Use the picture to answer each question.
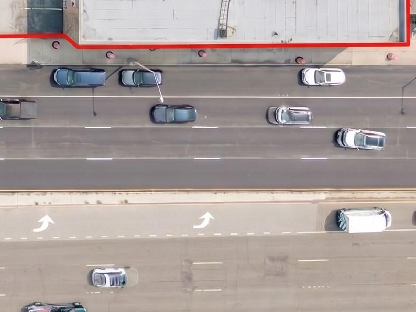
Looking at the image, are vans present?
Yes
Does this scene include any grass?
No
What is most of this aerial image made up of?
paved ground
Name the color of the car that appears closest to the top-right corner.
white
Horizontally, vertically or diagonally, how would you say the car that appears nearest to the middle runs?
horizontally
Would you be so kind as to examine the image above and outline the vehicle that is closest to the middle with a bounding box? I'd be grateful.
[151,104,198,126]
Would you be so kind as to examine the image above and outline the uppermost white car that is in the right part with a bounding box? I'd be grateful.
[300,66,347,88]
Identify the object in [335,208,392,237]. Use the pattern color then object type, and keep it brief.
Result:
white van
